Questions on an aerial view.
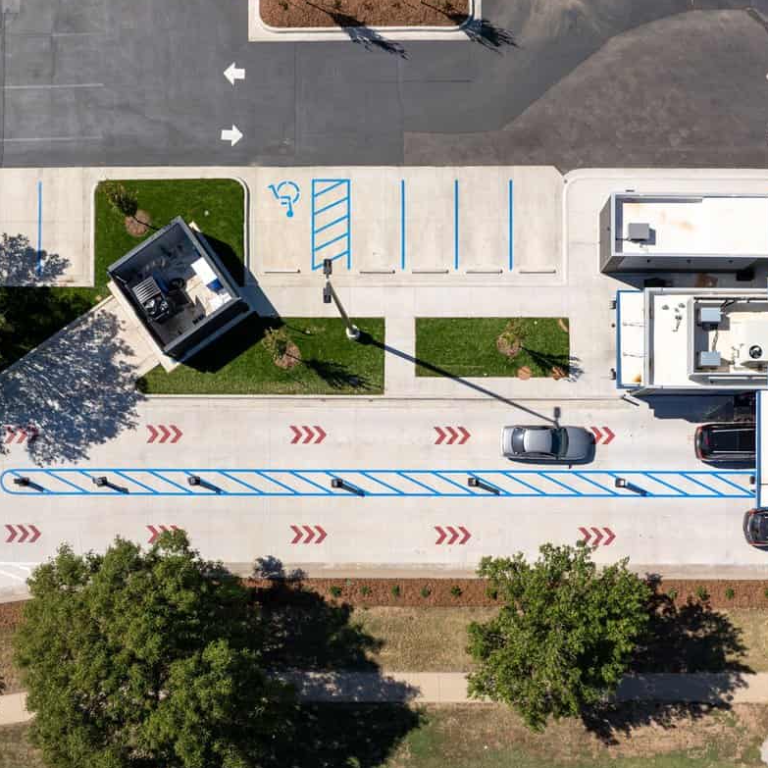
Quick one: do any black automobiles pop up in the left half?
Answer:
No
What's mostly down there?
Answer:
paved ground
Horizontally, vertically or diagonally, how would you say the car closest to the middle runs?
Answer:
horizontally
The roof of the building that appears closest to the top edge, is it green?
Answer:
No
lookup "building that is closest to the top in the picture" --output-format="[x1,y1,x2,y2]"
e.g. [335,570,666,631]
[599,193,768,274]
